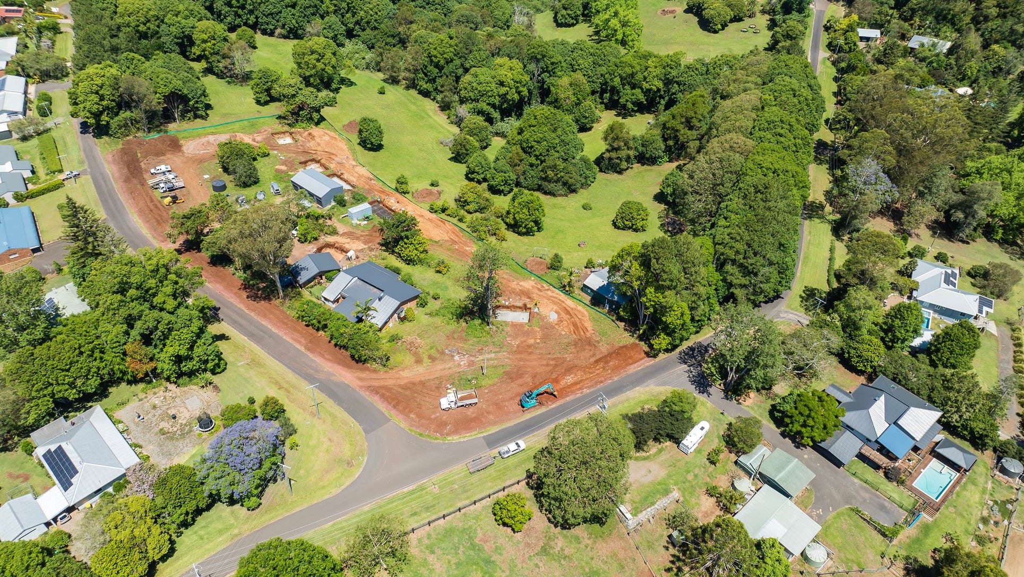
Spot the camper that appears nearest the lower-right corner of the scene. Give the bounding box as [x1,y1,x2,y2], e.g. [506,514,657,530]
[680,414,710,450]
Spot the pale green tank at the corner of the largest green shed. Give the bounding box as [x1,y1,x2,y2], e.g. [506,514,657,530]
[797,537,830,570]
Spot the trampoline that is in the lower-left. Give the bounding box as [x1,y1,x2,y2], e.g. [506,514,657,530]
[193,411,214,431]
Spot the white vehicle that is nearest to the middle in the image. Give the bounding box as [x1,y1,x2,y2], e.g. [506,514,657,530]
[438,389,479,411]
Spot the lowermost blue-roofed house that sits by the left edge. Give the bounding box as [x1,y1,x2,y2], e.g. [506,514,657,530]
[0,206,43,266]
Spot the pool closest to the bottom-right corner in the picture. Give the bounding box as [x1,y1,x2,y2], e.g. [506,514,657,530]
[913,459,959,501]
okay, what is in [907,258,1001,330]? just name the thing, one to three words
house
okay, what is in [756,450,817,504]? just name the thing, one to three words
building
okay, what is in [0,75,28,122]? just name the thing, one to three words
house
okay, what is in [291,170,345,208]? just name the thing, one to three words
shed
